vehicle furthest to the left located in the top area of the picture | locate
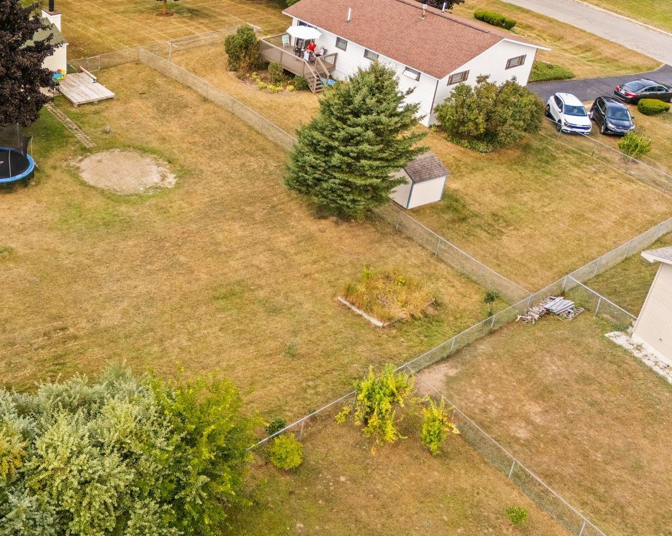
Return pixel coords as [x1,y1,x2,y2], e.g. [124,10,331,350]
[548,91,592,132]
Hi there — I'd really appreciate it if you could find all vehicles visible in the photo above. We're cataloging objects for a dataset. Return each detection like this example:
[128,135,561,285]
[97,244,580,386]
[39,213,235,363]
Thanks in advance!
[591,90,637,132]
[548,91,592,132]
[618,78,672,106]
